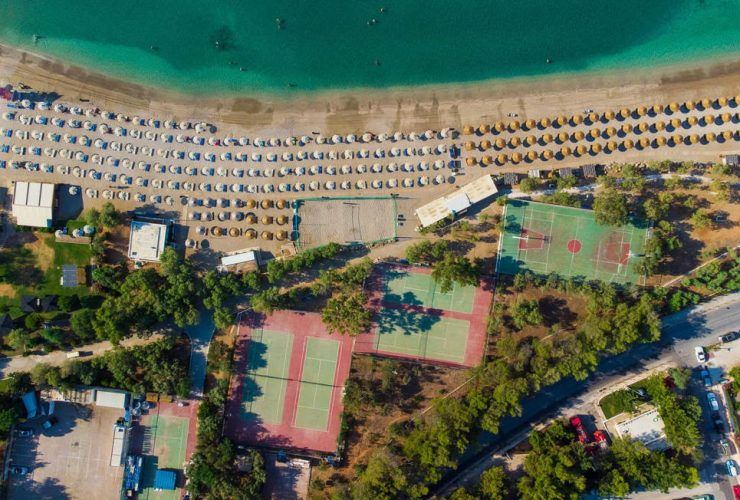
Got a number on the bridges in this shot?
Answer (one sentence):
The photo contains no bridges.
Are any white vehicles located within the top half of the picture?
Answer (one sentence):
No, I can find no white vehicle within the top half of the picture.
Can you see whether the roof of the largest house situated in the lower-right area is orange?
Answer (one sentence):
No, the color of the roof of the largest house situated in the lower-right area is white.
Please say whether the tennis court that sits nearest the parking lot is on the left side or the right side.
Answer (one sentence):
It is on the left.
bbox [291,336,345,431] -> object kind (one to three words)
tennis court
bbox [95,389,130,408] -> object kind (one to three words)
shed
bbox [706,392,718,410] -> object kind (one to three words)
vehicle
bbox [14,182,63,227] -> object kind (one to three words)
building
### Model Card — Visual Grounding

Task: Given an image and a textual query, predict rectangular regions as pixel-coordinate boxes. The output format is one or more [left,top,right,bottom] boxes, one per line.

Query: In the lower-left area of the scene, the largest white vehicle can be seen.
[110,416,126,467]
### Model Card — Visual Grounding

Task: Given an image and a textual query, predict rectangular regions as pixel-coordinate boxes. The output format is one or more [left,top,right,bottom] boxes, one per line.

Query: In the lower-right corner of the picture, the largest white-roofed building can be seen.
[611,406,666,447]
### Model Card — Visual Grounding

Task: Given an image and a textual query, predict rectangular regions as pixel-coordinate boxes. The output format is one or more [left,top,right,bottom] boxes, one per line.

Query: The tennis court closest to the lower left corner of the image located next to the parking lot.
[140,412,193,500]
